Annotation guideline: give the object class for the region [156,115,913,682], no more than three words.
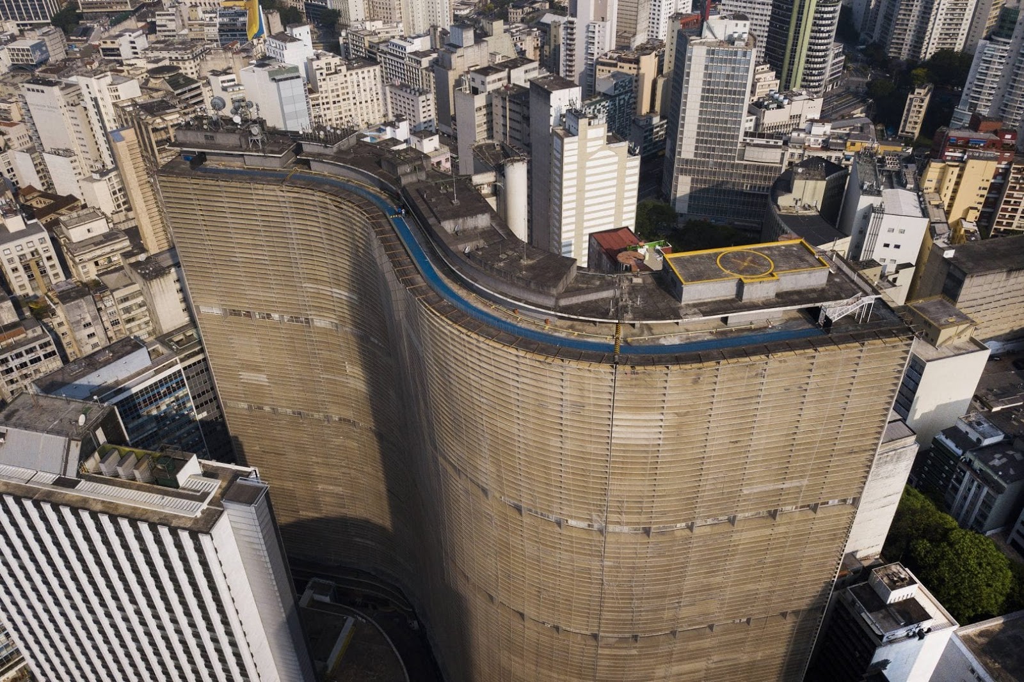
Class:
building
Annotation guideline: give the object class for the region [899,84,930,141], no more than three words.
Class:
building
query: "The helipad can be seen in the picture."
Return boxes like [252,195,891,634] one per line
[662,237,829,299]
